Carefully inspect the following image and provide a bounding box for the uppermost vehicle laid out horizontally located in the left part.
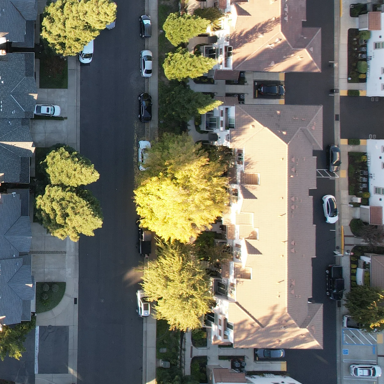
[34,104,61,117]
